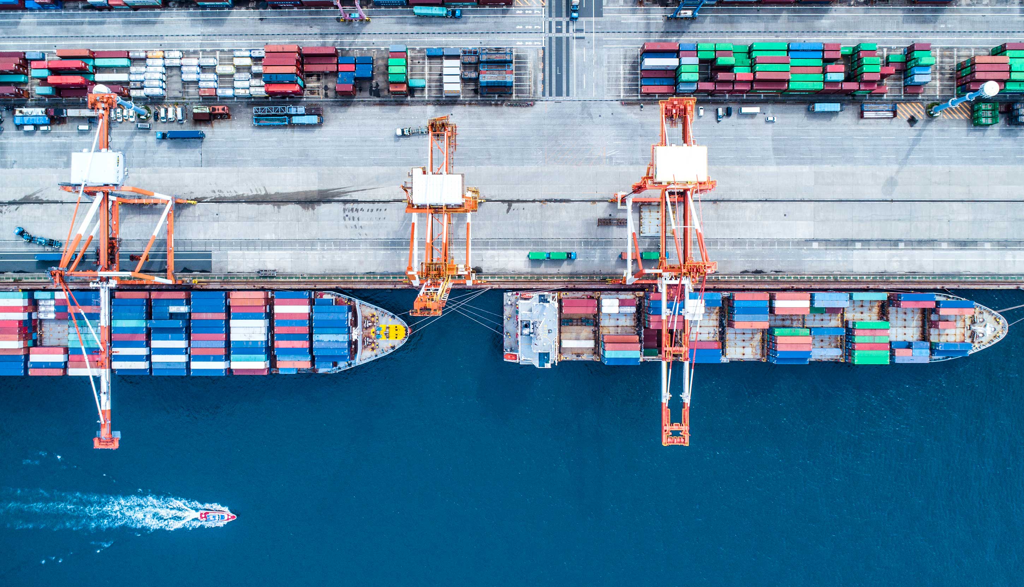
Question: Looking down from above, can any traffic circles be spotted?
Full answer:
No, the picture doesn't show any traffic circle.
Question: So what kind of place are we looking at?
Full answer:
The area seen from above is a port.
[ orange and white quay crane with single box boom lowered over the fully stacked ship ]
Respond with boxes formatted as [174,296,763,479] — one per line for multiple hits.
[43,95,201,448]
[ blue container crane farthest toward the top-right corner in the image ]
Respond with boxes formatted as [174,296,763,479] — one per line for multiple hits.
[664,0,711,20]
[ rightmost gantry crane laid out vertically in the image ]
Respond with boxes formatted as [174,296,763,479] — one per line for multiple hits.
[607,97,718,447]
